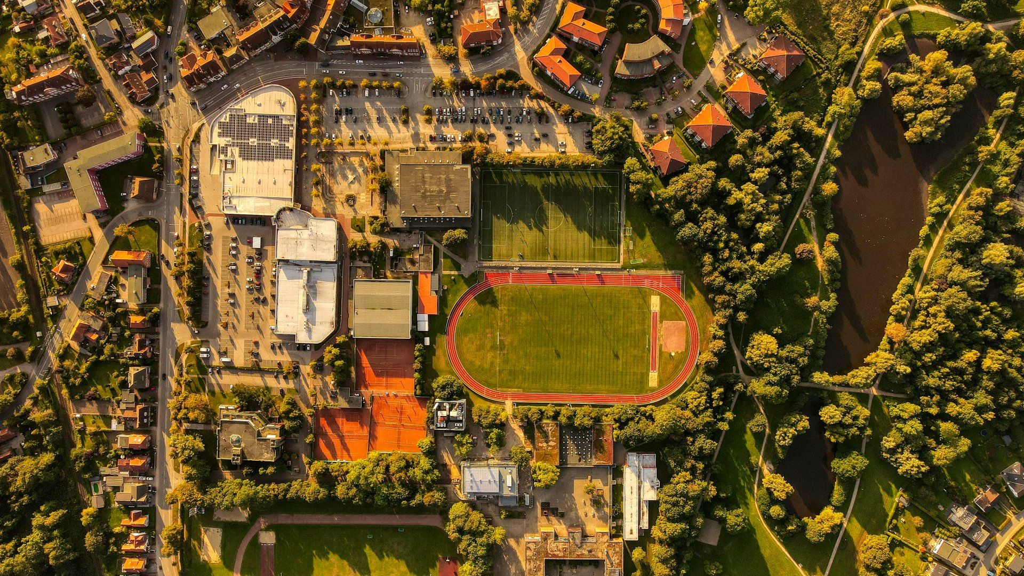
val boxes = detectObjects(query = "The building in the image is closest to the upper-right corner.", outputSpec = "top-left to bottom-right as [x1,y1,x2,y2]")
[755,35,805,83]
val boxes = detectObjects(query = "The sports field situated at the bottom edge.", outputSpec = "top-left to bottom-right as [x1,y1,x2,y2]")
[232,514,465,576]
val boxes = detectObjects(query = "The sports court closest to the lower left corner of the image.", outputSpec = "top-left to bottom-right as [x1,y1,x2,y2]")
[200,527,222,563]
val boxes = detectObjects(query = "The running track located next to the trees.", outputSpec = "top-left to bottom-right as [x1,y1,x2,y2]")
[447,269,699,404]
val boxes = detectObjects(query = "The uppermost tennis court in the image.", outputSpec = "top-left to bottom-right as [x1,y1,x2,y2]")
[355,338,414,395]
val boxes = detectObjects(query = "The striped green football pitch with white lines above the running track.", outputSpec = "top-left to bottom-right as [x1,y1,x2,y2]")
[476,168,623,270]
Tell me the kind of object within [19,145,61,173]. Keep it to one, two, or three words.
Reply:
house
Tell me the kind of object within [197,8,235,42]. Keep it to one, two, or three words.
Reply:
building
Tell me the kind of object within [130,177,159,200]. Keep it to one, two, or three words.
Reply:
house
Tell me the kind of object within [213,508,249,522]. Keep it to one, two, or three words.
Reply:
sports court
